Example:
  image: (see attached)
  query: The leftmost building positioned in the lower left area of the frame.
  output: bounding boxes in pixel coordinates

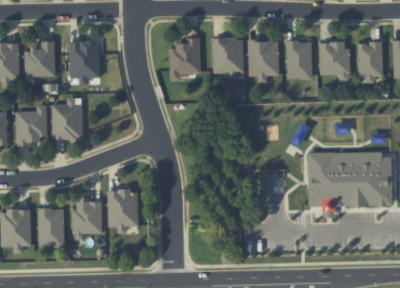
[0,210,30,254]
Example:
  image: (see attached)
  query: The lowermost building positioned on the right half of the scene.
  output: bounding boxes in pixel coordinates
[308,152,392,218]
